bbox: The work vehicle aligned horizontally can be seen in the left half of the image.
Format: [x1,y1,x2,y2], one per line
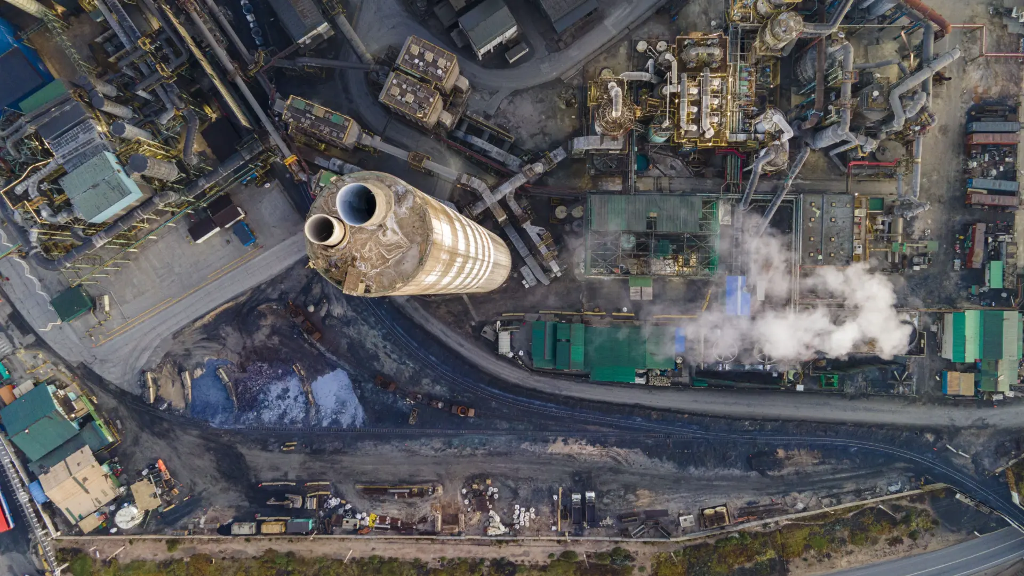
[269,496,301,509]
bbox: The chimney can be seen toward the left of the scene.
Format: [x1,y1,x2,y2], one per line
[302,169,511,299]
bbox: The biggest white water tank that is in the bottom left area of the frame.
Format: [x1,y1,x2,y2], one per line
[113,499,148,529]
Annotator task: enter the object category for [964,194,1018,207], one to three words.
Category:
vehicle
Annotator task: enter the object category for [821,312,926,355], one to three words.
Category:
cooling tower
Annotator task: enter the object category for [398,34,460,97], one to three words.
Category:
house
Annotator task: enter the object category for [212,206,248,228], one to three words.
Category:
building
